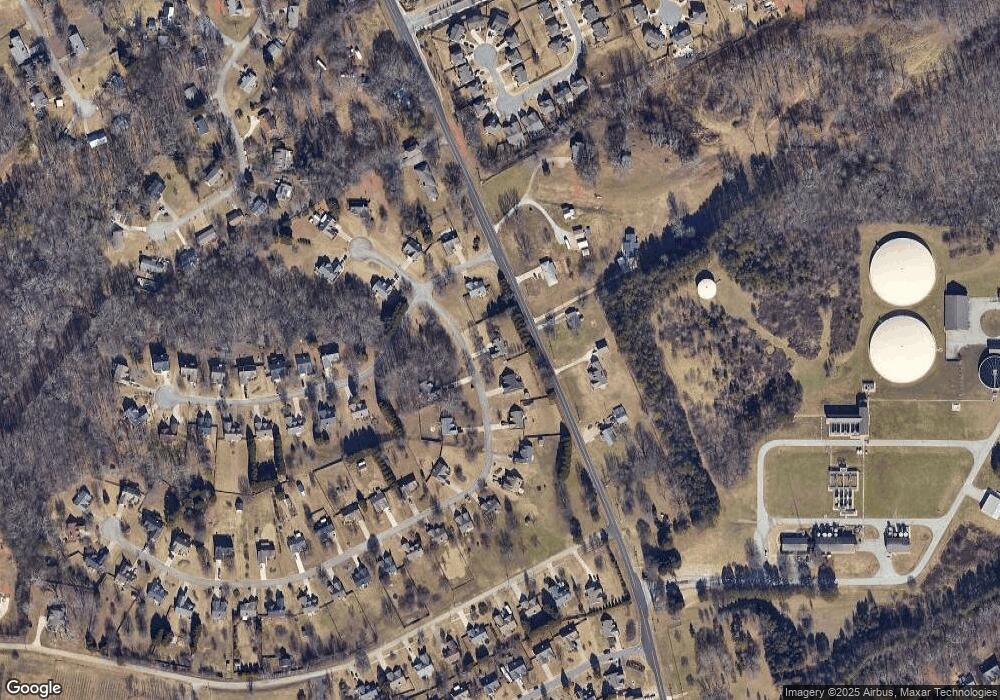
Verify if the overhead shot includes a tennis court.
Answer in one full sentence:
No, no tennis court is visible in the scene.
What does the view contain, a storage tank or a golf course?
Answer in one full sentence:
It is a storage tank that can be seen here.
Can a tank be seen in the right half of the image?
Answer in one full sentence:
Yes, a tank shows up in the right half of the image.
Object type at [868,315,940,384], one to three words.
storage tank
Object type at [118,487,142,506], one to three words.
house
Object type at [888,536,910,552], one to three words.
building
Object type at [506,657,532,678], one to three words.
house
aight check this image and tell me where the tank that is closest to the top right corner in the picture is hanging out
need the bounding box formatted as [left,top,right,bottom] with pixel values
[868,237,937,306]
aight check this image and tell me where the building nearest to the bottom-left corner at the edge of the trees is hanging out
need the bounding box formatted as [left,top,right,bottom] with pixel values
[45,608,72,630]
